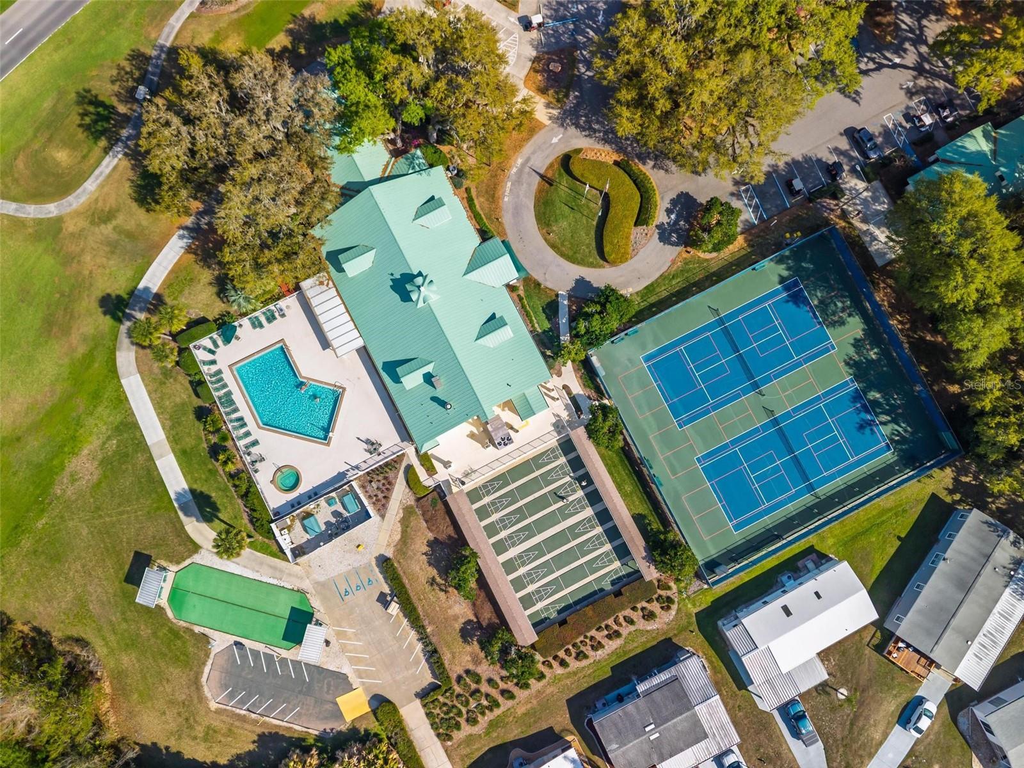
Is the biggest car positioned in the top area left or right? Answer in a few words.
right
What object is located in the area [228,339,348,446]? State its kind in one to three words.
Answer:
swimming pool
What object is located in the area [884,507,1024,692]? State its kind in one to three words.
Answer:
house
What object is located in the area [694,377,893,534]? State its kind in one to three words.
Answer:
tennis court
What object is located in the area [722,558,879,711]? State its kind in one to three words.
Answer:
house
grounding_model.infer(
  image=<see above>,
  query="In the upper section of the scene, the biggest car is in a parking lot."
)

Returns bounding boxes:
[856,122,883,158]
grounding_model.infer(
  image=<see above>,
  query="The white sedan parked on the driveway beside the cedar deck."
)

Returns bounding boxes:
[908,698,937,735]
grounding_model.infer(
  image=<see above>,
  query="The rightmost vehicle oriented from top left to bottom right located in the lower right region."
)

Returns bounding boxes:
[788,700,821,743]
